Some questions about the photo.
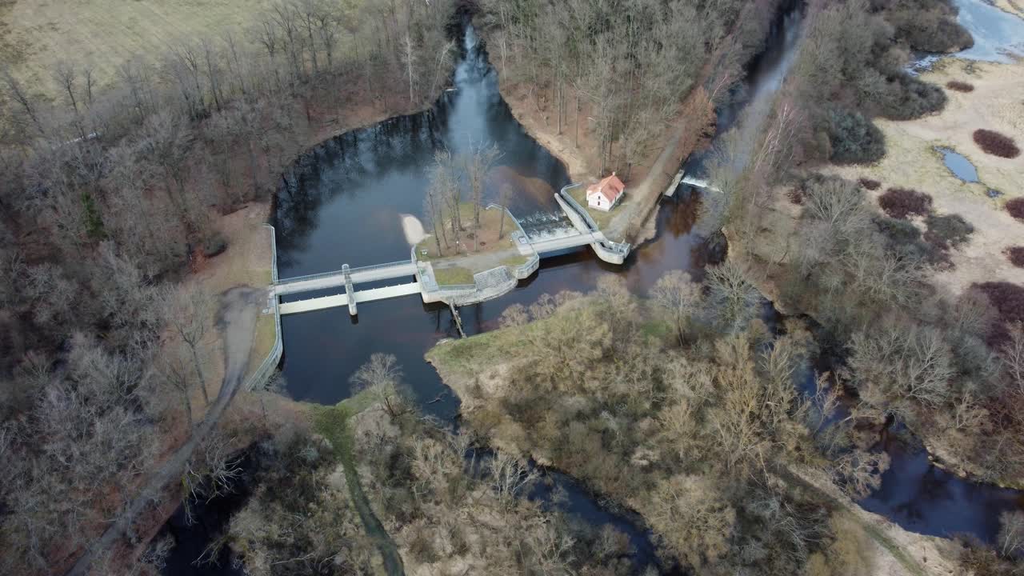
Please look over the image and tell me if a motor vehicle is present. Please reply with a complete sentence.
No, the photo shows no motor vehicle.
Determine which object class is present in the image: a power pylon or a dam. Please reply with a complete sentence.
The one in the frame is a dam.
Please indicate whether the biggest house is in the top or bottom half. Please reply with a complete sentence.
Seen from above, the biggest house lies in the top half of the view.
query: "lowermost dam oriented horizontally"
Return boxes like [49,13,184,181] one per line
[278,268,420,319]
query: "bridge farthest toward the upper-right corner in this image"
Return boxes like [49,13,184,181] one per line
[529,229,598,254]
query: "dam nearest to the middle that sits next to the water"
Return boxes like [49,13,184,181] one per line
[516,193,591,252]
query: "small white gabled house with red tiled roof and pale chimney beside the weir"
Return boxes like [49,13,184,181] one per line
[582,173,621,211]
